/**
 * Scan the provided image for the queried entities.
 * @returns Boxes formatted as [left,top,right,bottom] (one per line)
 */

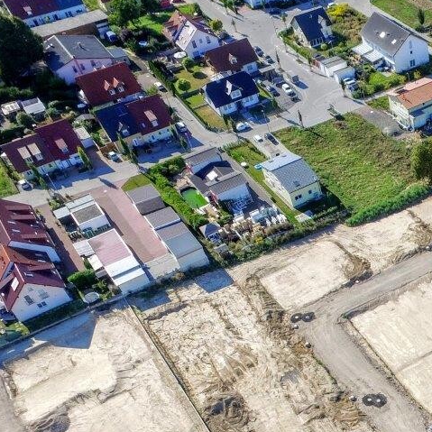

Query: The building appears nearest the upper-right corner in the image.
[361,12,427,72]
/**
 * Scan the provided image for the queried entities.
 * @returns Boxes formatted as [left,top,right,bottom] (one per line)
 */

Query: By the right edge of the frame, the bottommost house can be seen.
[387,78,432,130]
